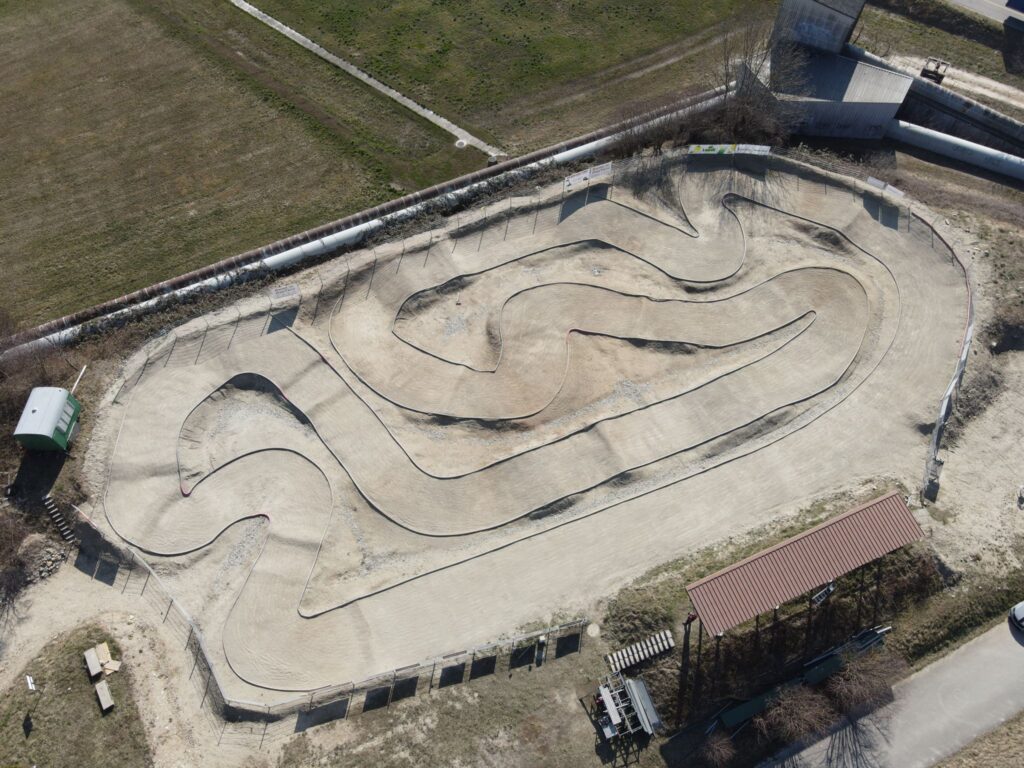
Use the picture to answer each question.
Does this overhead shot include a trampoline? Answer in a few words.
No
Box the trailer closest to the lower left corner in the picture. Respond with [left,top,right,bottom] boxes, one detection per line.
[14,361,88,450]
